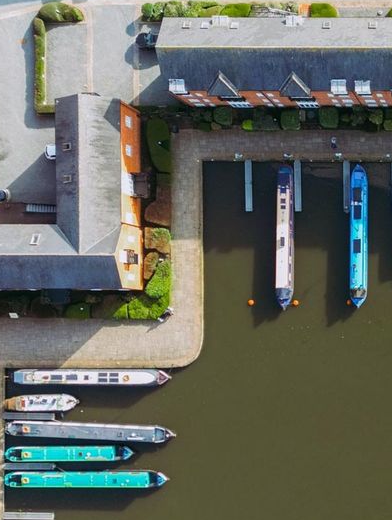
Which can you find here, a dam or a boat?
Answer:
boat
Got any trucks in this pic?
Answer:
No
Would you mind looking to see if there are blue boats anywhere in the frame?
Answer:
Yes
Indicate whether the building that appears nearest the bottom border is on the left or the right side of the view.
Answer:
left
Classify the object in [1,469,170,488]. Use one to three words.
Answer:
boat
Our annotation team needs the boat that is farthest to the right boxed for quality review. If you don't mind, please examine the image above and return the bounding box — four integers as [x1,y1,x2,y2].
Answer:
[349,163,368,310]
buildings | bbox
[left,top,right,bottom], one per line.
[157,16,392,111]
[0,90,154,304]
